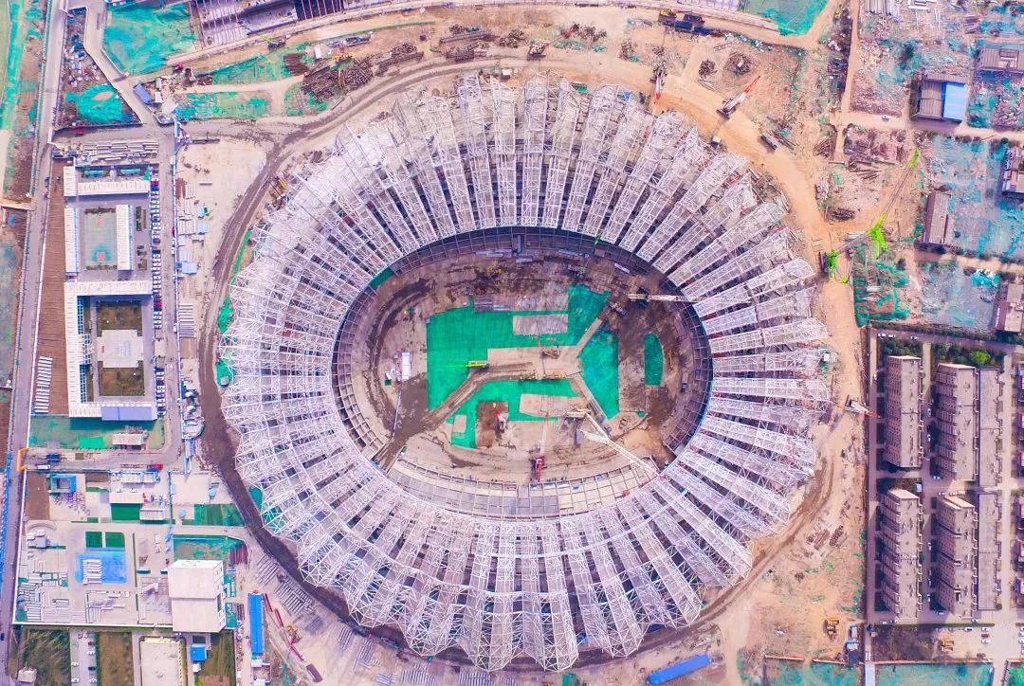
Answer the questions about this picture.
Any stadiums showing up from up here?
Yes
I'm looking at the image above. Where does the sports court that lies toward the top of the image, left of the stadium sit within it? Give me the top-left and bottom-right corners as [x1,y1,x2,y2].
[85,213,116,265]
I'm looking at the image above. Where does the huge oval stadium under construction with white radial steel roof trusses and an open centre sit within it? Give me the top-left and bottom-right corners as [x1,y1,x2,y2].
[220,73,826,671]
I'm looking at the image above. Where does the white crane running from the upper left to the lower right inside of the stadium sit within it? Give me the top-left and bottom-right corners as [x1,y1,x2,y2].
[569,407,663,478]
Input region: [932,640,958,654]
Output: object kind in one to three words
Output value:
work vehicle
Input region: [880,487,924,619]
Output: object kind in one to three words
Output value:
building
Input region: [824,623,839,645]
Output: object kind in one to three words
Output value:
work vehicle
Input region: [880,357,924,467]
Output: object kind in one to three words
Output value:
building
